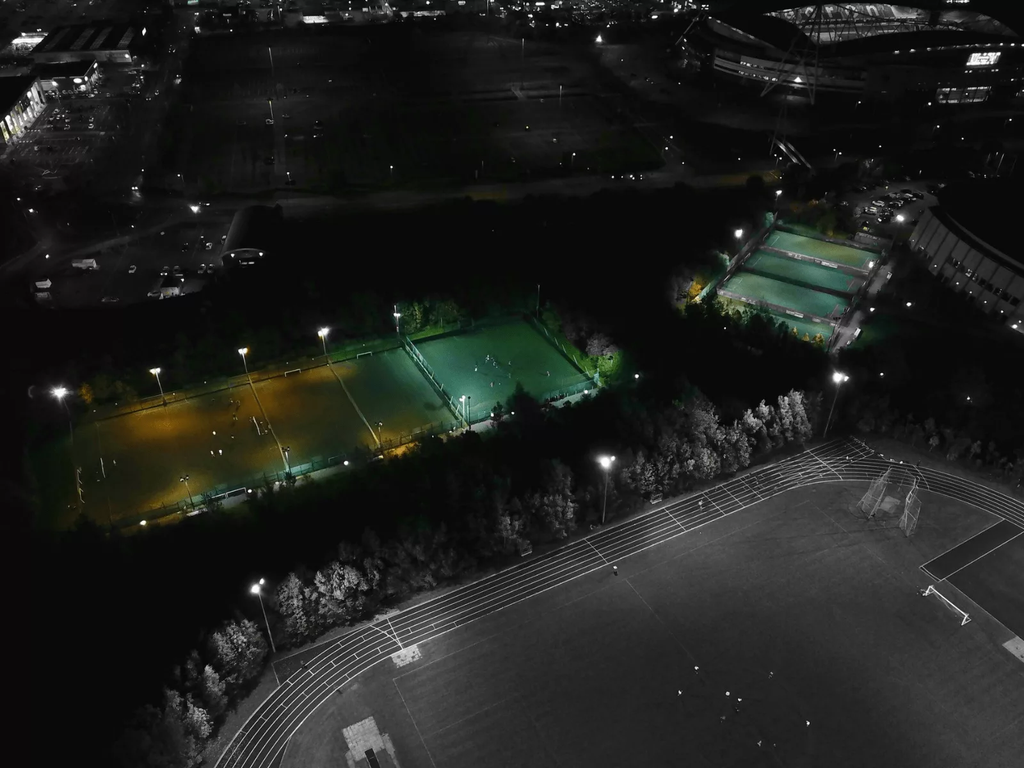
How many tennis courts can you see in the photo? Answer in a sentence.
The photo contains no tennis courts.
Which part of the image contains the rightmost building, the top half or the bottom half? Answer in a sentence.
The rightmost building is in the top half of the image.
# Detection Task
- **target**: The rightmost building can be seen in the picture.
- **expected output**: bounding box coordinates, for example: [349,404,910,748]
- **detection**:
[910,171,1024,338]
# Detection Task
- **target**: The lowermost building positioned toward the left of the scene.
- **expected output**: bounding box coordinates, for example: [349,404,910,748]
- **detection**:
[157,275,184,297]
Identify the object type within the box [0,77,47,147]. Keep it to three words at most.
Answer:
building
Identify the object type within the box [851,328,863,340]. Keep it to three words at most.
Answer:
vehicle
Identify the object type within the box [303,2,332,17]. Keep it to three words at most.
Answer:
building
